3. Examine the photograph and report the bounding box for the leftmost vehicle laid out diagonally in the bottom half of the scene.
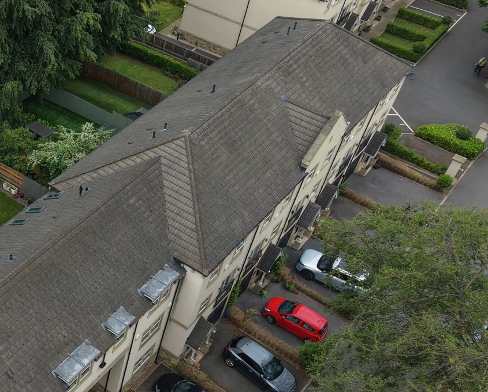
[216,337,292,392]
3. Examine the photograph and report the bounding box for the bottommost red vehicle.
[259,297,330,344]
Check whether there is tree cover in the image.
Yes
